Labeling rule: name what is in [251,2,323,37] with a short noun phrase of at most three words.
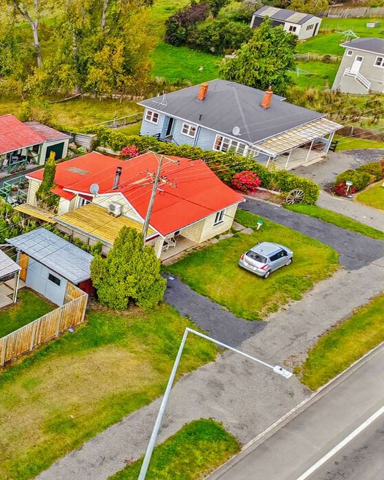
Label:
shed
